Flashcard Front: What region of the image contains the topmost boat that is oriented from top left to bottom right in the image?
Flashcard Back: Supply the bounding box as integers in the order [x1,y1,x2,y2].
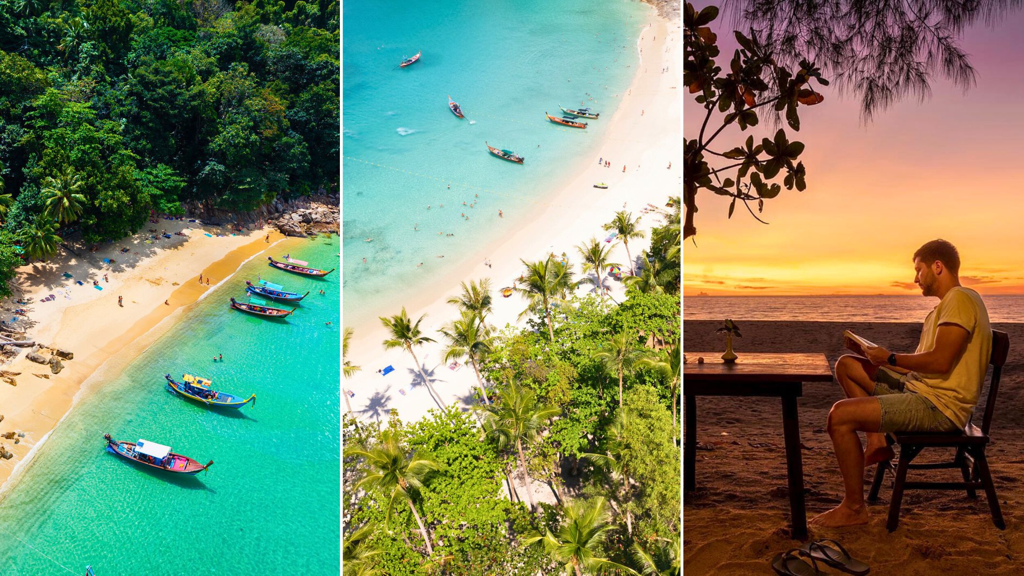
[449,94,467,126]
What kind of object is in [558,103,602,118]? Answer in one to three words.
boat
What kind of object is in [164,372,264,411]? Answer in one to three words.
boat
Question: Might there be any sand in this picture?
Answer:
Yes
